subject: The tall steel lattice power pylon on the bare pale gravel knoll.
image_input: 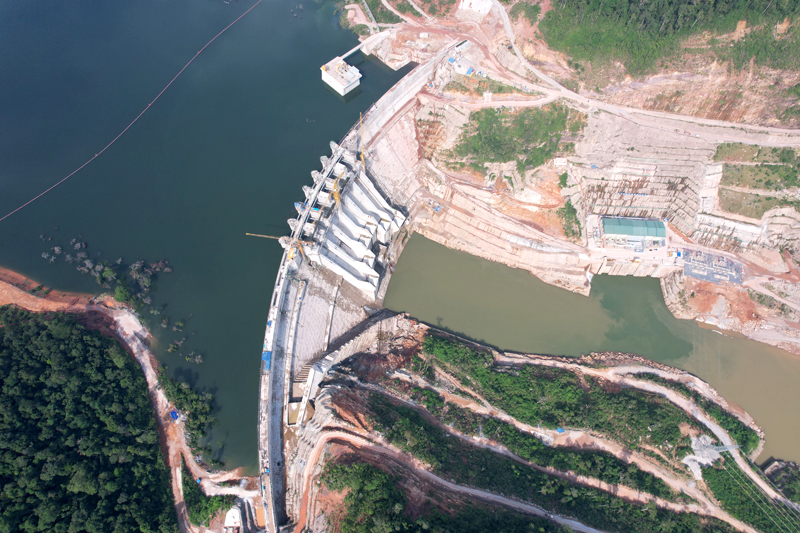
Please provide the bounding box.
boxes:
[693,265,772,513]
